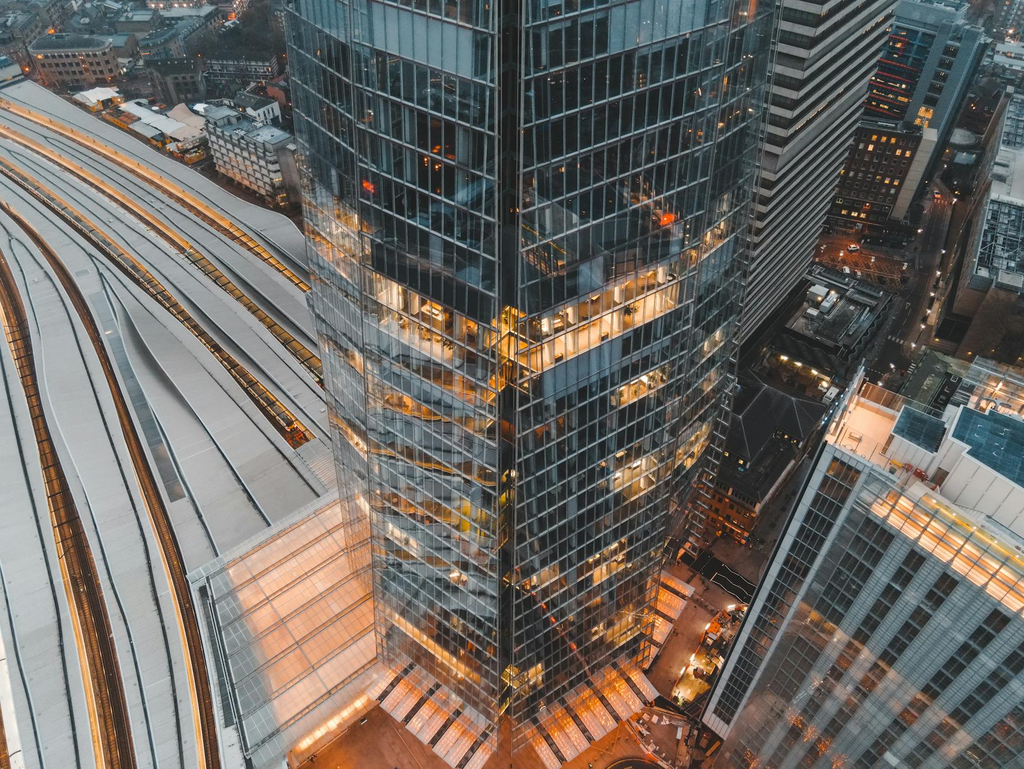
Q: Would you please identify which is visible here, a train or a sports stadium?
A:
train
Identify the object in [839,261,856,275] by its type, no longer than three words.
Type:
vehicle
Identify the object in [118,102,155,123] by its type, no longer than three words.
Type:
tent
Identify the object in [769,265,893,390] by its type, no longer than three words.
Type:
building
